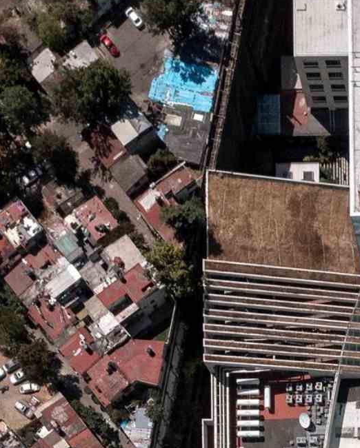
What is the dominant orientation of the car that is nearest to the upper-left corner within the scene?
diagonally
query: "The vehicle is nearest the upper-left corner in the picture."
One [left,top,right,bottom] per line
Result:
[100,33,120,57]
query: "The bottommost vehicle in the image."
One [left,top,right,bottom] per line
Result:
[14,398,34,416]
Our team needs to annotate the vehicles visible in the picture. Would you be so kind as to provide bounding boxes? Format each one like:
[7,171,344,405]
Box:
[124,6,143,30]
[8,370,30,389]
[0,358,21,375]
[18,381,43,395]
[14,398,34,416]
[100,33,120,57]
